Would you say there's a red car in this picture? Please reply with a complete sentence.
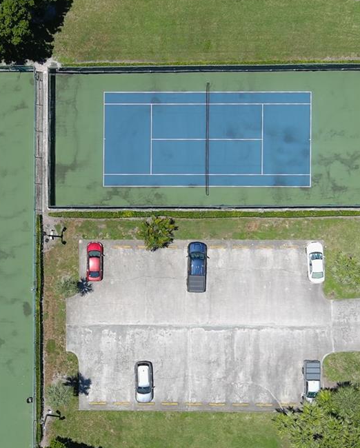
Yes, a red car is visible in the scene.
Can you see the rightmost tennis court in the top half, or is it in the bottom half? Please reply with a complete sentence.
The rightmost tennis court is in the top half of the image.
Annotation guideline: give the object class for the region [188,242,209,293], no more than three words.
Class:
truck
